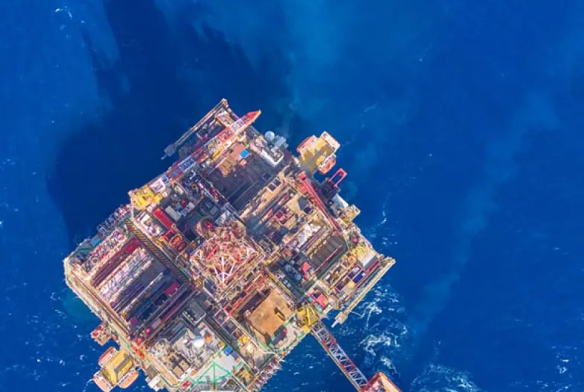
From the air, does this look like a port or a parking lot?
port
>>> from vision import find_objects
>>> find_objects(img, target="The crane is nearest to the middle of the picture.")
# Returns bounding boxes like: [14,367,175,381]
[294,170,343,236]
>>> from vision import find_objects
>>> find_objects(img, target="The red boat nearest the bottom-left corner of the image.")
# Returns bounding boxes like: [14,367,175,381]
[97,346,114,362]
